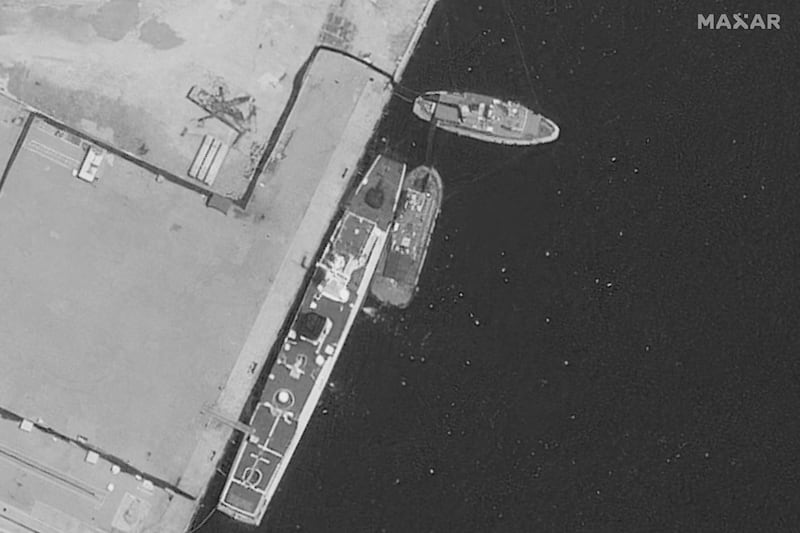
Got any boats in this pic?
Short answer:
Yes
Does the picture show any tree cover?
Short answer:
No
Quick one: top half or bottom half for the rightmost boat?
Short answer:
top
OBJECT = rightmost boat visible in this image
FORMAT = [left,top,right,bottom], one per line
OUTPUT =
[413,91,560,145]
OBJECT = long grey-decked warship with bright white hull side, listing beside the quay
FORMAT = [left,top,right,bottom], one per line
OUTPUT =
[217,155,407,524]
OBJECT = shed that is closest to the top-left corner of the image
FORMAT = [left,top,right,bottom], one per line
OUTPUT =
[78,145,106,182]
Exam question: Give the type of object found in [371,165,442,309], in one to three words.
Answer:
boat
